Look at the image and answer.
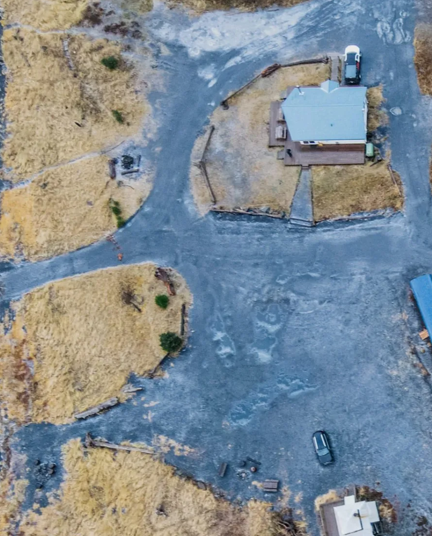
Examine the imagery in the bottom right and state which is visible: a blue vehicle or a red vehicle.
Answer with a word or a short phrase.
blue vehicle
